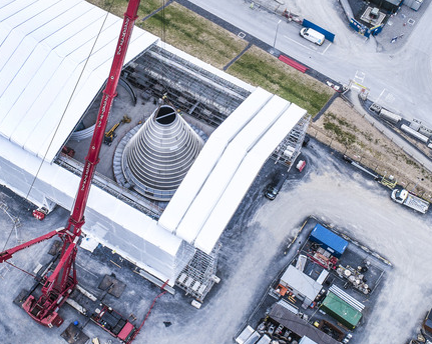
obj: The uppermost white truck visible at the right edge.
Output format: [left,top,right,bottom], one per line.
[392,186,431,217]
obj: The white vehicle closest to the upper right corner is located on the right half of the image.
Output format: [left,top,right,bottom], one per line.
[297,26,328,48]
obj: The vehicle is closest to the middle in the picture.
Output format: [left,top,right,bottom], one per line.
[263,171,287,200]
